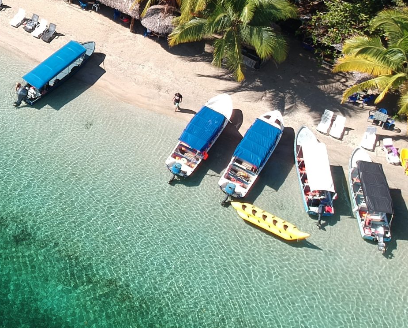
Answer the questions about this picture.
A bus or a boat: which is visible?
boat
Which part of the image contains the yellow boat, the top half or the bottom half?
bottom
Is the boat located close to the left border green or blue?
blue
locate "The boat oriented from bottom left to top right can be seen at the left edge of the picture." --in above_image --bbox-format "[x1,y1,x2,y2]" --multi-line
[14,36,95,113]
